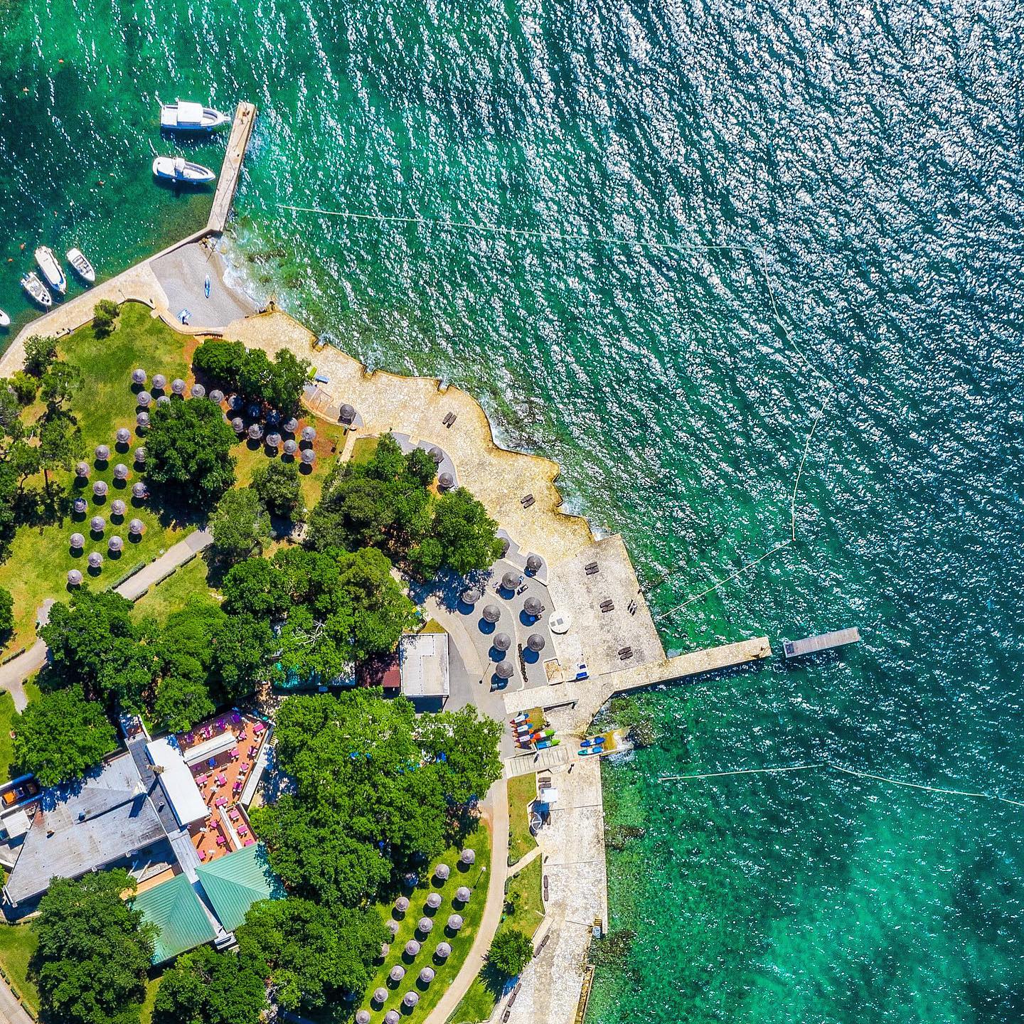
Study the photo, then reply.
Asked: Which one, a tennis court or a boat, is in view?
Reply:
boat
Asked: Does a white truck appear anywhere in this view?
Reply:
No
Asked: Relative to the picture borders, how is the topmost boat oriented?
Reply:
from left to right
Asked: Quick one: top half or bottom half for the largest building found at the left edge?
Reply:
bottom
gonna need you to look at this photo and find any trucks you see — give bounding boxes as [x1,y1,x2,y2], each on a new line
[2,782,45,808]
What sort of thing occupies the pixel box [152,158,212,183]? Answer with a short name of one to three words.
boat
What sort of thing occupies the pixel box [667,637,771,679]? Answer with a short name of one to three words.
pier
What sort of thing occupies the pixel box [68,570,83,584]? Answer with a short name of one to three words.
umbrella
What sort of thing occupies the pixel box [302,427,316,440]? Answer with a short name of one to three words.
umbrella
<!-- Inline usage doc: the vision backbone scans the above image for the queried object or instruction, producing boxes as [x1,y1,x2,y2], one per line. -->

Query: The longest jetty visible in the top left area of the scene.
[208,102,258,234]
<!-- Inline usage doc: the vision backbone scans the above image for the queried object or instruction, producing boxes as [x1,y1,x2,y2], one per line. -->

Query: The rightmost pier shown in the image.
[783,627,859,657]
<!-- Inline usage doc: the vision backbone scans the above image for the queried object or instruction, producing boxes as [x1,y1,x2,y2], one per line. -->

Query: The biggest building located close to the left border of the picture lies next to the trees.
[5,733,211,909]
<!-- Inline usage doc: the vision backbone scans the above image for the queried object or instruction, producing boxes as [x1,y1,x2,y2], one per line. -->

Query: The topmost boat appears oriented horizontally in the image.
[164,103,230,128]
